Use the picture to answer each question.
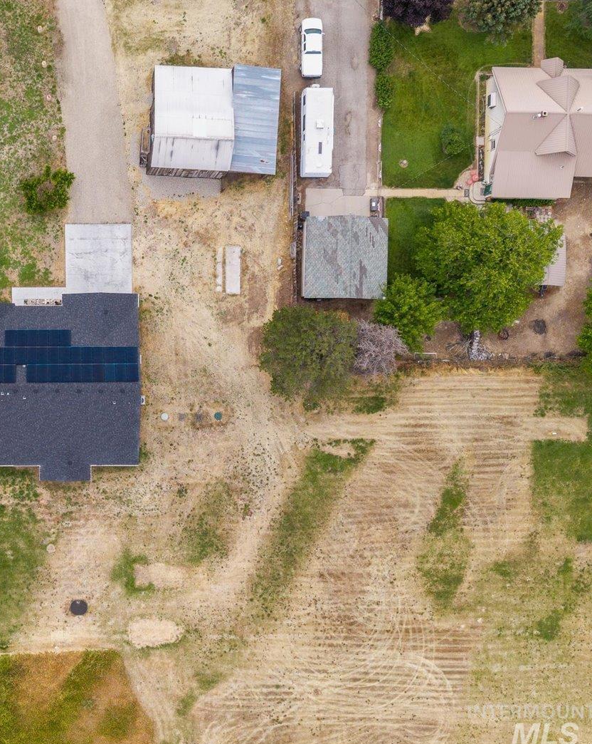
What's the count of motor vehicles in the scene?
2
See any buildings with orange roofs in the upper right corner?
No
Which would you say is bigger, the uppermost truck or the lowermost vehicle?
the vehicle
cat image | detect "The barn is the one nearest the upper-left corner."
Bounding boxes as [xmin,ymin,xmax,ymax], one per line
[148,66,234,176]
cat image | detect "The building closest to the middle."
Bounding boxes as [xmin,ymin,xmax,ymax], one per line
[298,215,388,300]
